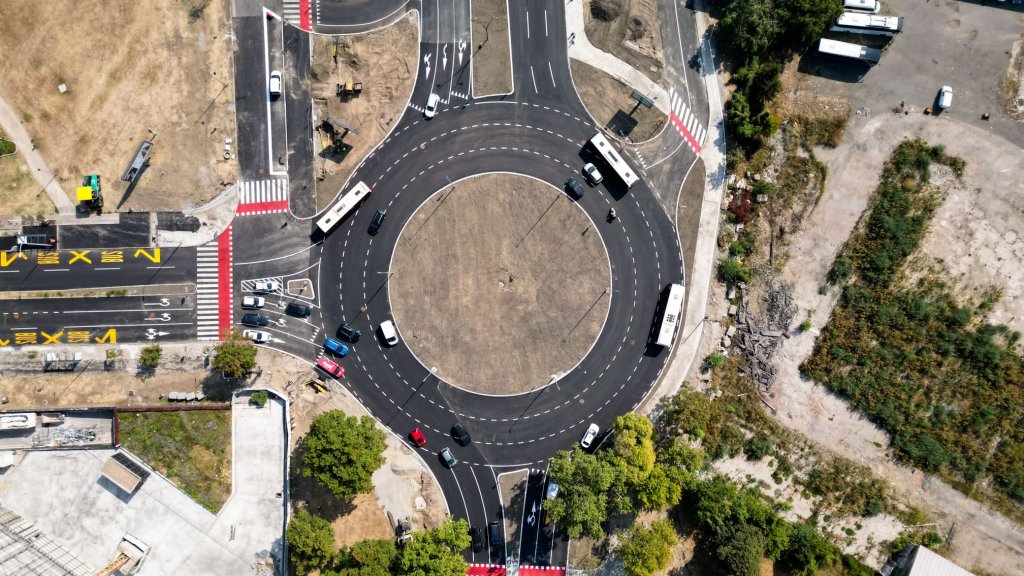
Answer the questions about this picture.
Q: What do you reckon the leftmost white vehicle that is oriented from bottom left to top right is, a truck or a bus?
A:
bus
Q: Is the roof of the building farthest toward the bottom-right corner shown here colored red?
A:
No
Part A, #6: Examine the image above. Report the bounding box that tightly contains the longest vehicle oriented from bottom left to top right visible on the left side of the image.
[317,181,374,234]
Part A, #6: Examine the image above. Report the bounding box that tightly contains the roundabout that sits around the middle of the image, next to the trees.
[316,100,684,468]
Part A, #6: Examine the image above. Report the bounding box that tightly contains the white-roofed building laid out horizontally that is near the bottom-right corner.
[892,541,977,576]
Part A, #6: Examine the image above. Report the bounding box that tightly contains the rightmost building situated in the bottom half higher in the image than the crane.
[100,443,160,494]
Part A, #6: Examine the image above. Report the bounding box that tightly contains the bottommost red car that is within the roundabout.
[411,427,426,446]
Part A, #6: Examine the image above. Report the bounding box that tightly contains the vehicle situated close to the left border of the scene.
[15,236,51,255]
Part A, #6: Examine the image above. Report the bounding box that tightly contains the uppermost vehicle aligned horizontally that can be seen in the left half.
[335,82,365,96]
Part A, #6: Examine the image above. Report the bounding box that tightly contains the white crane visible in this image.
[94,530,151,576]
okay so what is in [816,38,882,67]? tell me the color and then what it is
white bus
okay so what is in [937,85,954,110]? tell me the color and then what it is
white vehicle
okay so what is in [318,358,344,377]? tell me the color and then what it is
red vehicle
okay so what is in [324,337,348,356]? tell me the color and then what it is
blue car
